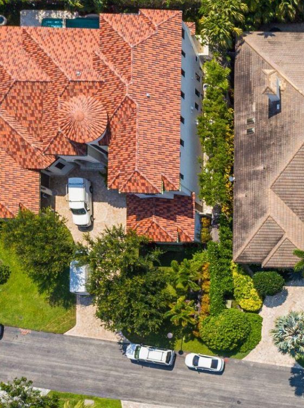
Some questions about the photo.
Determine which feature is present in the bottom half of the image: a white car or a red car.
white car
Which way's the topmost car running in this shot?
vertically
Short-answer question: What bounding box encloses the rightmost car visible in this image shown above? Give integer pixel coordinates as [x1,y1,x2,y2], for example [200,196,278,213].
[186,353,226,372]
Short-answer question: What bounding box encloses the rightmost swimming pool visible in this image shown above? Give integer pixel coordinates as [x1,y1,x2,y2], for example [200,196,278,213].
[65,15,100,27]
